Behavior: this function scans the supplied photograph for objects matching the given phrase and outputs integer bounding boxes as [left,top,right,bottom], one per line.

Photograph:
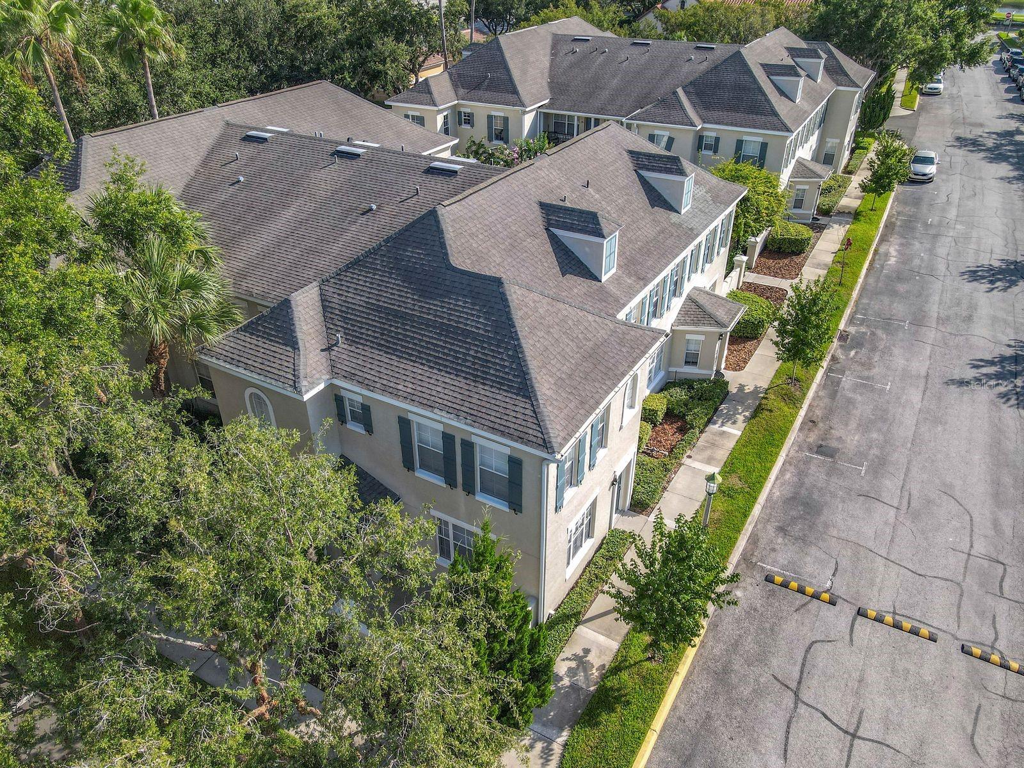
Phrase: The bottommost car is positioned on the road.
[911,151,943,179]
